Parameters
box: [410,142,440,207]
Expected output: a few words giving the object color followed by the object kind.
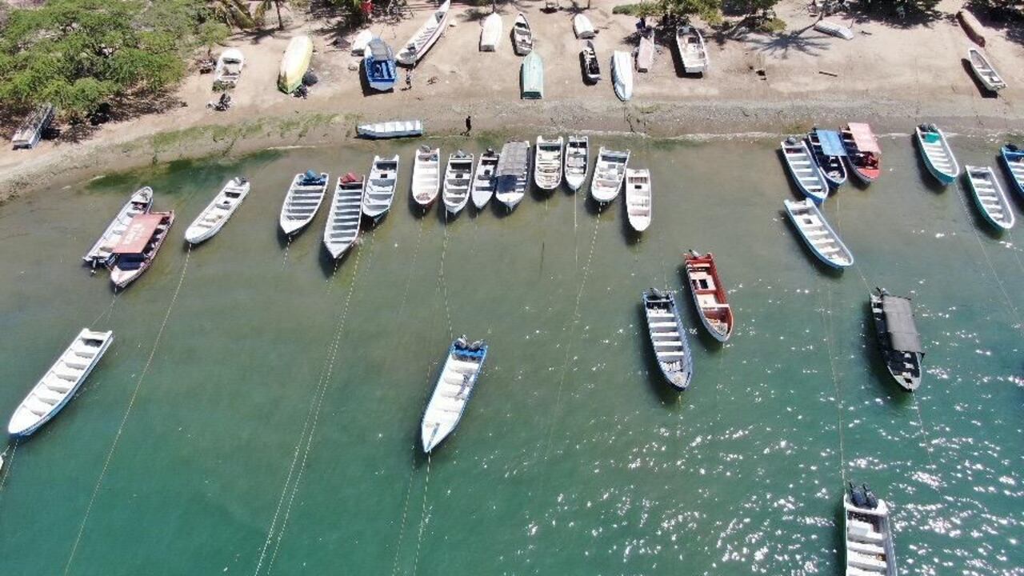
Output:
white boat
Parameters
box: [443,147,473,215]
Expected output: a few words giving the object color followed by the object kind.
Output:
white boat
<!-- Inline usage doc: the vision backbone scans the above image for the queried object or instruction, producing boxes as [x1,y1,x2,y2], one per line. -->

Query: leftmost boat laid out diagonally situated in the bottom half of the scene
[8,329,115,434]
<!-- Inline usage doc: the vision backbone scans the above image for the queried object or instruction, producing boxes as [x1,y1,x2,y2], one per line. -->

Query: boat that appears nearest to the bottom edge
[841,483,896,576]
